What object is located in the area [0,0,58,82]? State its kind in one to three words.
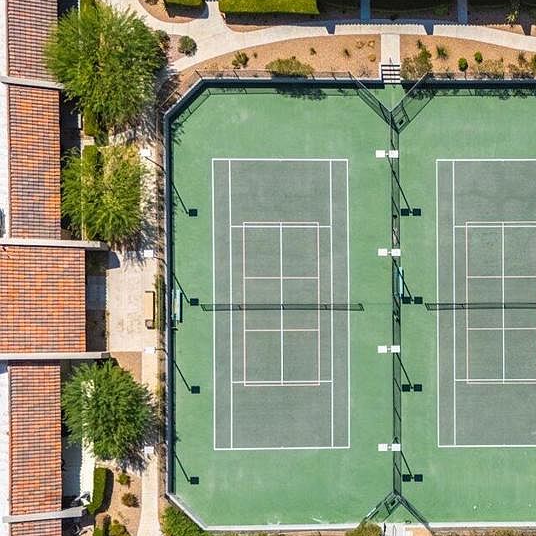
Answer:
house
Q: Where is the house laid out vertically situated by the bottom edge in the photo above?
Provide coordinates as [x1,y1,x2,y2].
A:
[0,360,62,514]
